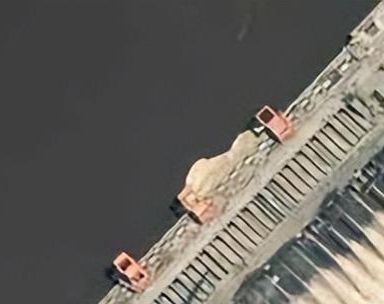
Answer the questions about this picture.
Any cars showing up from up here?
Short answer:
No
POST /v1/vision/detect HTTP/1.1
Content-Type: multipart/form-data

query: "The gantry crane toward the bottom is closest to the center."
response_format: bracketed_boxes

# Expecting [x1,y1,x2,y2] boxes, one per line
[179,186,218,225]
